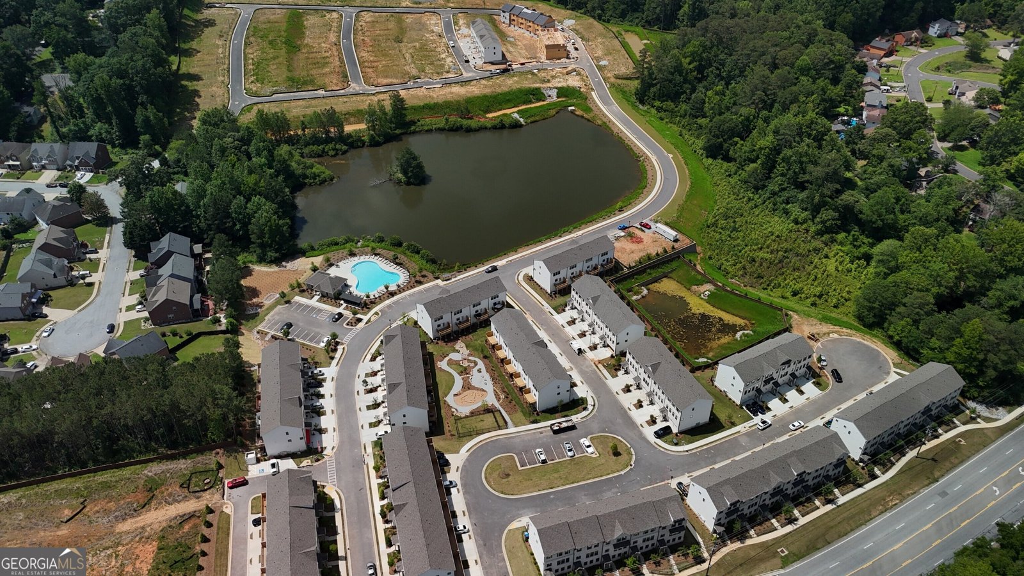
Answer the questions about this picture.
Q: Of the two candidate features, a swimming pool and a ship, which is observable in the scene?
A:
swimming pool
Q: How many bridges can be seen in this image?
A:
zero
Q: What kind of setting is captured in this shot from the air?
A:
residential area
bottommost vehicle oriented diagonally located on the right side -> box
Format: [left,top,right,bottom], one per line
[674,479,689,499]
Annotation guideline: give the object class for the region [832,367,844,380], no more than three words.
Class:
vehicle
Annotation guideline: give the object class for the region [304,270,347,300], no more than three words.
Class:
building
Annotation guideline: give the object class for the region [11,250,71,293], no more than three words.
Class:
house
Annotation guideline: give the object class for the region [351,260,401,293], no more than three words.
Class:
swimming pool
